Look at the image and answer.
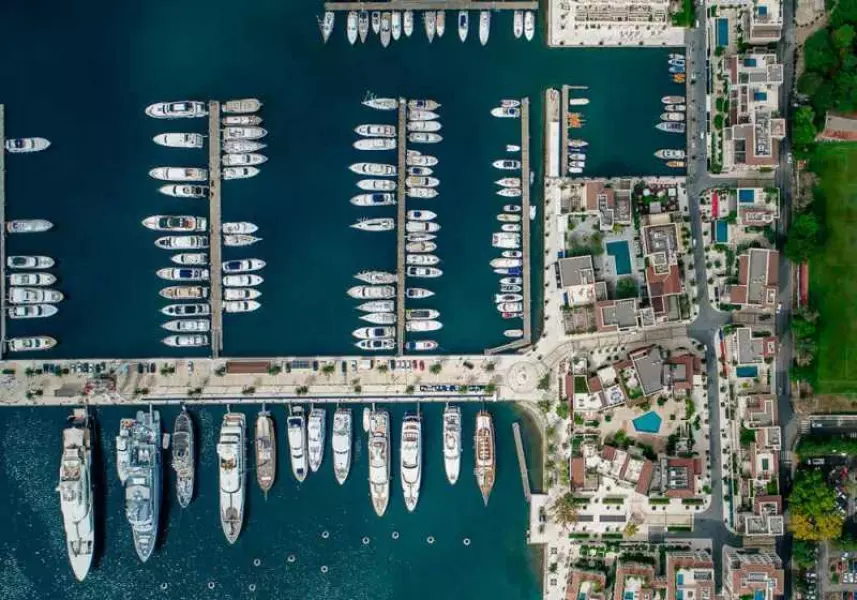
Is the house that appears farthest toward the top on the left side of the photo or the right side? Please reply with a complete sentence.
You can find the house that appears farthest toward the top on the right side of the picture.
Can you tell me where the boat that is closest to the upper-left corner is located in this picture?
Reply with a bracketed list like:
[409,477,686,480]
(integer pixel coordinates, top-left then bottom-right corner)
[8,136,49,151]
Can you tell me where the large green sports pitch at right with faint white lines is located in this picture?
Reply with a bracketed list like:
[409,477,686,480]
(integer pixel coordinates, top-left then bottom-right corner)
[812,143,857,393]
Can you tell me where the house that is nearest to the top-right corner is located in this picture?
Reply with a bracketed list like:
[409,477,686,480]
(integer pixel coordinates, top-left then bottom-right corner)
[739,0,784,44]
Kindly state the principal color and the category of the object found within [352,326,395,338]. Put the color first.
white boat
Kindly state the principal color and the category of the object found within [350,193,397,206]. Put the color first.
white boat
